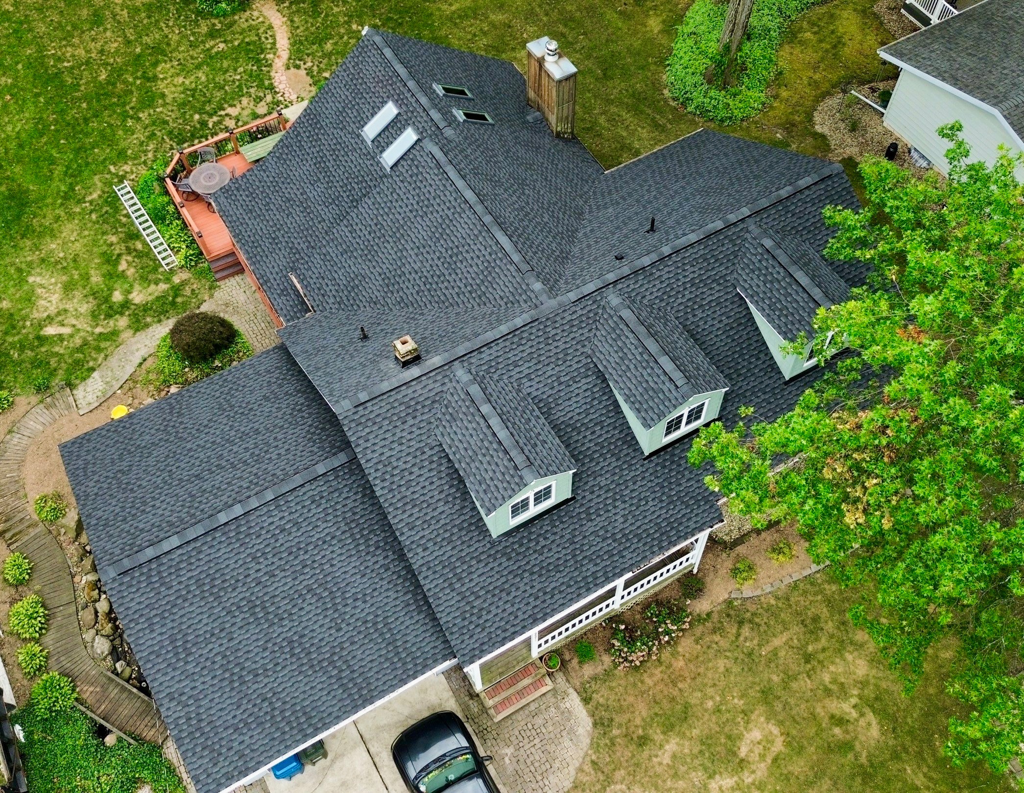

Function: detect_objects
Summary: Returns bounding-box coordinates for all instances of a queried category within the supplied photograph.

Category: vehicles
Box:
[395,715,496,793]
